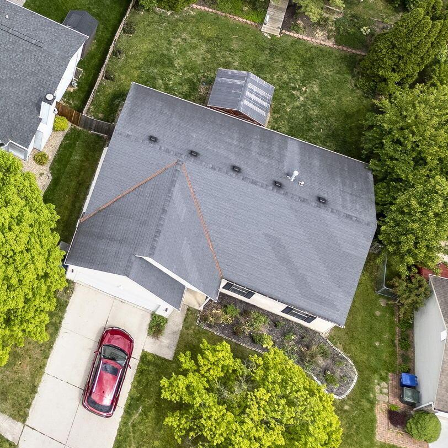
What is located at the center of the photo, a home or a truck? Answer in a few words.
home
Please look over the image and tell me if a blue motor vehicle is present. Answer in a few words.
No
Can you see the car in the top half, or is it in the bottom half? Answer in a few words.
bottom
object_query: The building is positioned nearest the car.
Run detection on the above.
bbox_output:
[64,81,380,332]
